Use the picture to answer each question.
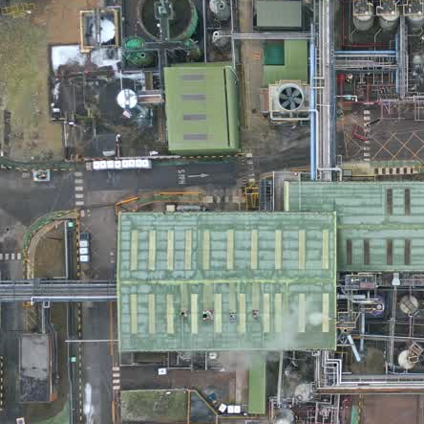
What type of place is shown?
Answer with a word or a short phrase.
industrial area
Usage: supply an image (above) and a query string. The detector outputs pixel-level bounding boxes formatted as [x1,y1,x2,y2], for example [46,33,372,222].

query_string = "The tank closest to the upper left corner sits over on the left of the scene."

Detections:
[80,10,122,56]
